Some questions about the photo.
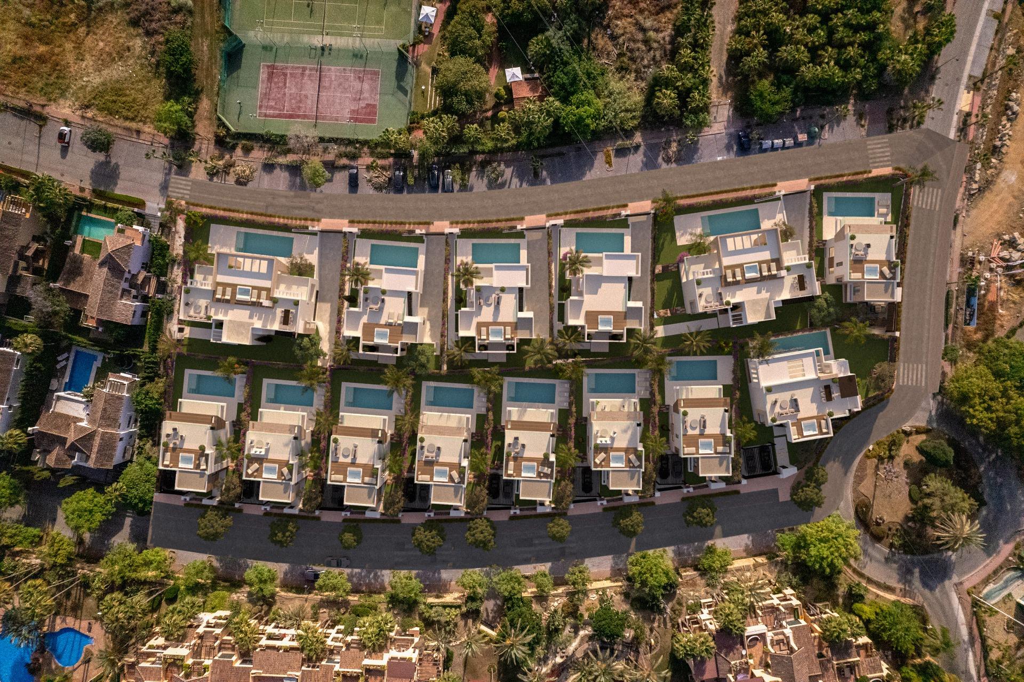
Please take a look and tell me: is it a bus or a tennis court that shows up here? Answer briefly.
tennis court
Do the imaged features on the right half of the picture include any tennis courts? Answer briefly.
No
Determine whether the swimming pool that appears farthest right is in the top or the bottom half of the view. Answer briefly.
bottom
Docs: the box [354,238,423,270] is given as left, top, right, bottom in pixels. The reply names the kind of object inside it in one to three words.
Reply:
swimming pool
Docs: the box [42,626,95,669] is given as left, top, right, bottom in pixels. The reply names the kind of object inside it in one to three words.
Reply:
swimming pool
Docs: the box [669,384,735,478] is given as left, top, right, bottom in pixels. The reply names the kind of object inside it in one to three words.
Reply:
house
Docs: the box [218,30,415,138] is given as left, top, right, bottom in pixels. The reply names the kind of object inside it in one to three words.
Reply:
tennis court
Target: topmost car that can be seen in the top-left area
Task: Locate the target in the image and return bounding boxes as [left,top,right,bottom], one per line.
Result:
[58,126,71,147]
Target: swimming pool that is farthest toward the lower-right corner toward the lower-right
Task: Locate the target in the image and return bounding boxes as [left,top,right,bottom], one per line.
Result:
[981,567,1024,606]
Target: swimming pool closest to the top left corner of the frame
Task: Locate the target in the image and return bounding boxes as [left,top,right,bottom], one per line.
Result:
[70,214,119,257]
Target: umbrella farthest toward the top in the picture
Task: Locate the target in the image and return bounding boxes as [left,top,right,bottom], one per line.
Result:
[418,7,437,26]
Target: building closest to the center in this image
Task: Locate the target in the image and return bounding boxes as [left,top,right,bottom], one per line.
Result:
[458,265,535,355]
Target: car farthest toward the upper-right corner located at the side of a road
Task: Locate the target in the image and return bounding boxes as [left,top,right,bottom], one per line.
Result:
[737,128,751,152]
